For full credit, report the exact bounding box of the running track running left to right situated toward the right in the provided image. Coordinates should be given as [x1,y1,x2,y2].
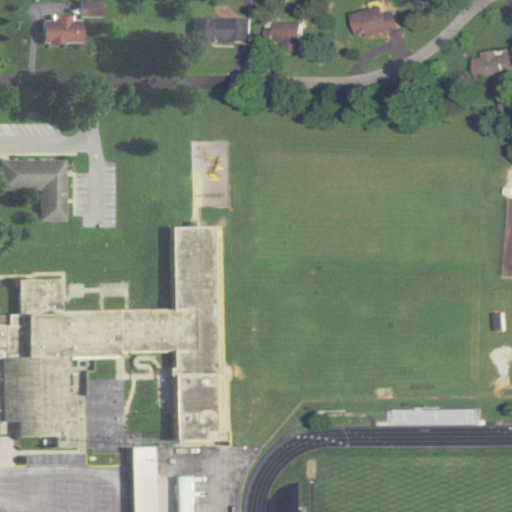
[240,422,512,512]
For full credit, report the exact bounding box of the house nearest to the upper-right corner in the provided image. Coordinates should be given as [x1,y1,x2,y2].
[470,49,512,78]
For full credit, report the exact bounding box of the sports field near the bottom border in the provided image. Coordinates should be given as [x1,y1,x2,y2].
[267,446,512,512]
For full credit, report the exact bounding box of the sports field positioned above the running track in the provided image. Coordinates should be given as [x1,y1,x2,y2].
[258,153,478,392]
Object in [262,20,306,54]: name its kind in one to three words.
house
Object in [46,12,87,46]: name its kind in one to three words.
house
